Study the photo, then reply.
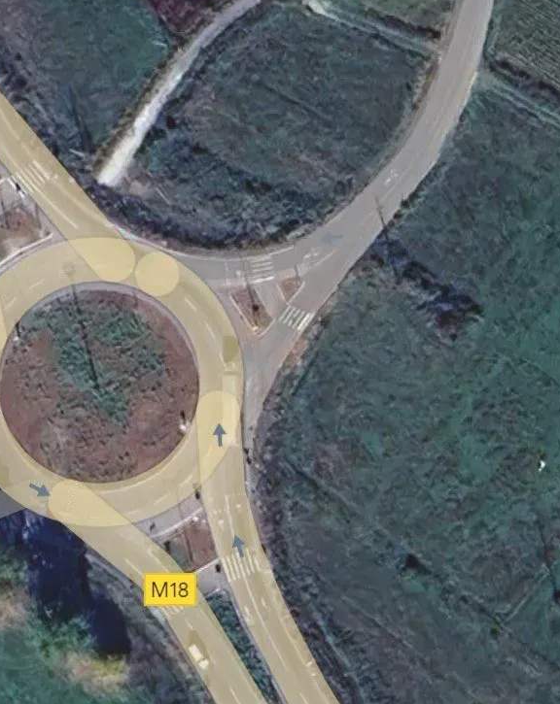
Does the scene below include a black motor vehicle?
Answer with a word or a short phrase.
No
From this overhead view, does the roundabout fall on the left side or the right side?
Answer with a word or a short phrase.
left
